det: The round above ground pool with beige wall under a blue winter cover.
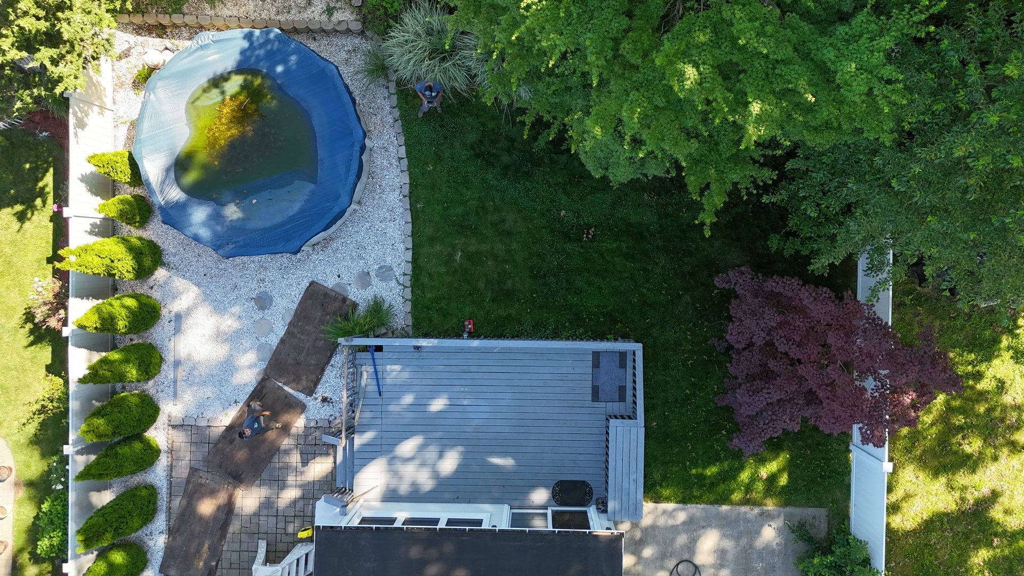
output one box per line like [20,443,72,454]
[132,28,374,259]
